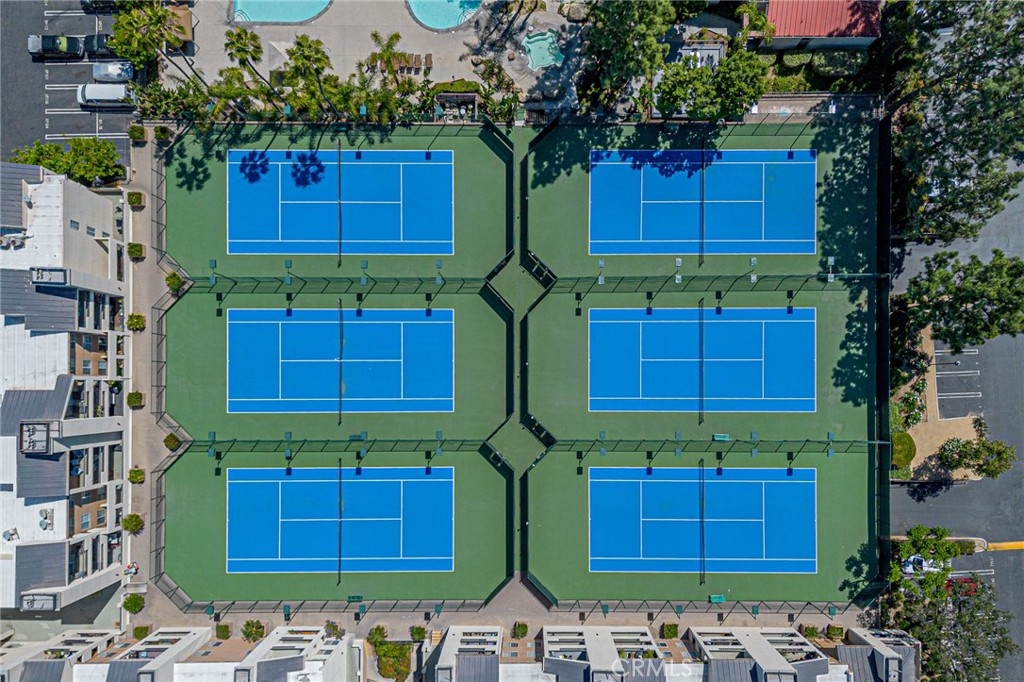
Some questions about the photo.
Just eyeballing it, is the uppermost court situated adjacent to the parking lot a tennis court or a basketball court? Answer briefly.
tennis court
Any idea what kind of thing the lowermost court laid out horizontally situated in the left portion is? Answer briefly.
tennis court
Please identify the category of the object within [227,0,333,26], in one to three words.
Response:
swimming pool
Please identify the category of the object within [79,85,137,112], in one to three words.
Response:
vehicle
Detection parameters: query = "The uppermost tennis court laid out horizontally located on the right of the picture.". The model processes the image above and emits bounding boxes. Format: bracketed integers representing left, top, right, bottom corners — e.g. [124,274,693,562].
[527,123,877,281]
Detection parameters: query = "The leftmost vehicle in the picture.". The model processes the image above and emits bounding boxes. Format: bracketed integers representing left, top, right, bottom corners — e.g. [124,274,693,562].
[29,35,88,62]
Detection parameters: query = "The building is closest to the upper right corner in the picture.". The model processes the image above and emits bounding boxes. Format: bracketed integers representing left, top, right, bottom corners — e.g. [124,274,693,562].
[766,0,886,49]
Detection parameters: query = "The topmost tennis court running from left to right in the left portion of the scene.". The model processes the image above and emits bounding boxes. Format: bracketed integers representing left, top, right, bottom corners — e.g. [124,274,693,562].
[163,123,513,281]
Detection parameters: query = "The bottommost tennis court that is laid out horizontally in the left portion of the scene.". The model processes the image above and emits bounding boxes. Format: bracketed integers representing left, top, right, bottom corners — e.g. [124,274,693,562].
[164,441,513,601]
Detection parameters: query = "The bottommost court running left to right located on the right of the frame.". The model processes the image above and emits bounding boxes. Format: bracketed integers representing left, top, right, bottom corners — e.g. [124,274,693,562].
[527,441,877,601]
